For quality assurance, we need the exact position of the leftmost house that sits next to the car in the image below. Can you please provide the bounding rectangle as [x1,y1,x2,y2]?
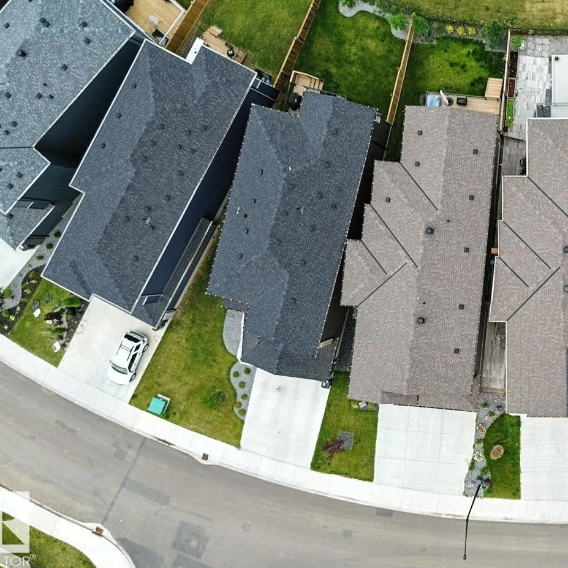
[40,37,269,330]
